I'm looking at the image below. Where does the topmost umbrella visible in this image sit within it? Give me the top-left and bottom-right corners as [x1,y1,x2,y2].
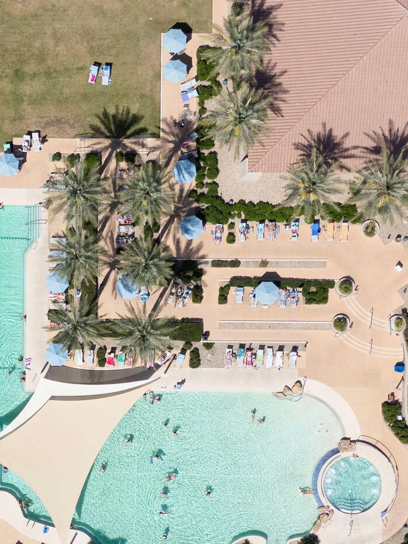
[163,29,187,53]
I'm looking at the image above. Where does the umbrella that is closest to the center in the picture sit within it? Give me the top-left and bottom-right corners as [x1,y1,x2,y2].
[179,215,203,239]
